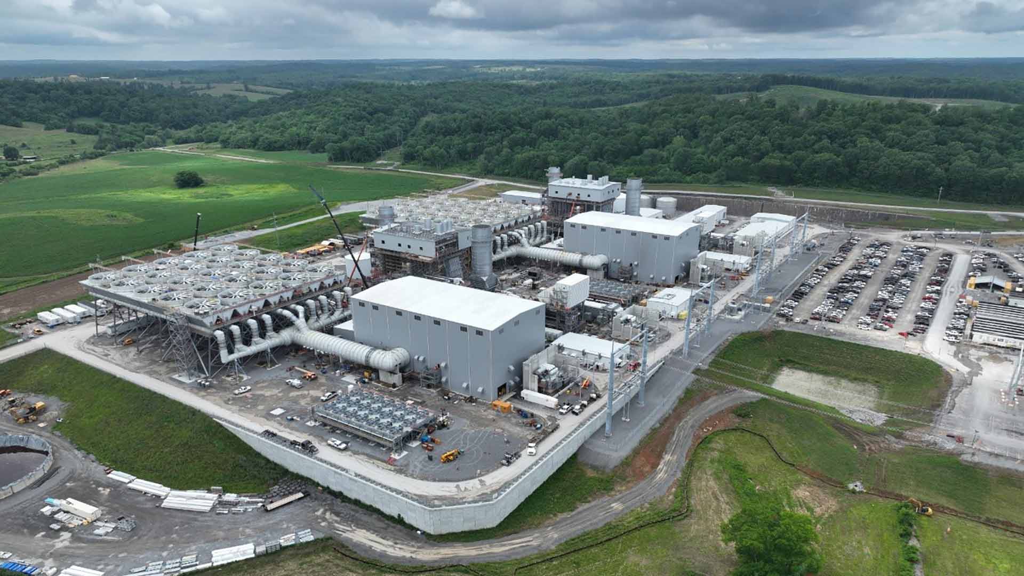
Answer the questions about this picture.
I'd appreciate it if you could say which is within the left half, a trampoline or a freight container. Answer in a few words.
freight container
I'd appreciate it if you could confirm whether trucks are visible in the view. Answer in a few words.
Yes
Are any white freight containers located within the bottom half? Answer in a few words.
Yes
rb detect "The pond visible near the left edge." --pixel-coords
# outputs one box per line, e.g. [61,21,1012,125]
[0,430,55,498]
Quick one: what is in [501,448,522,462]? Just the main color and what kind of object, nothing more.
gray vehicle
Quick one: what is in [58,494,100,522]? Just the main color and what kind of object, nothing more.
white shipping container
